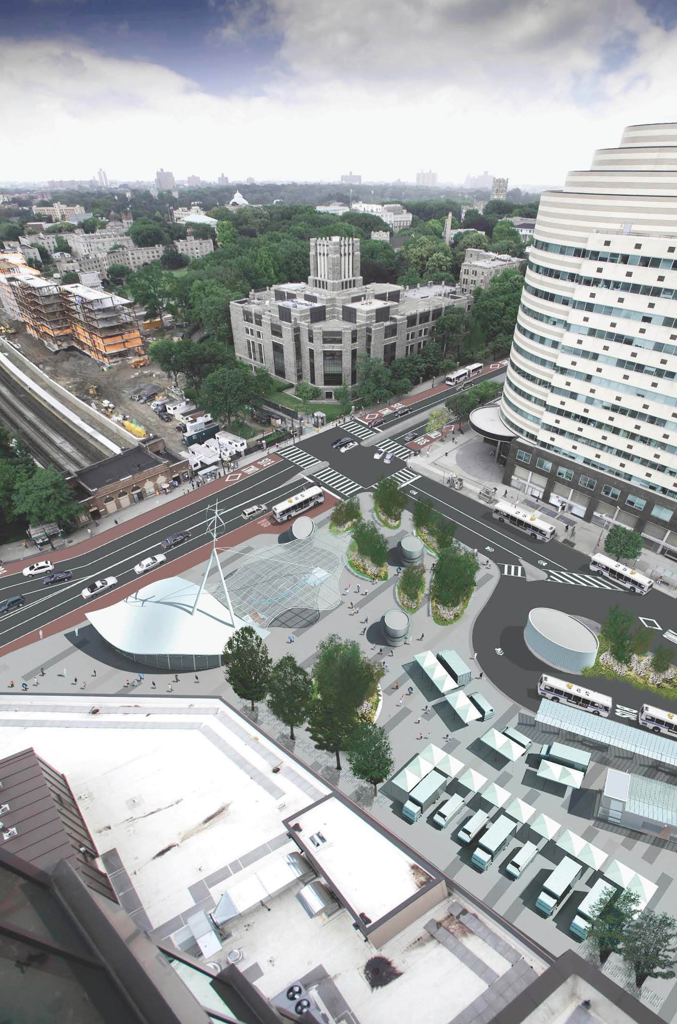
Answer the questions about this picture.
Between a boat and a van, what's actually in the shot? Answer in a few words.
van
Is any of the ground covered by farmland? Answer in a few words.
No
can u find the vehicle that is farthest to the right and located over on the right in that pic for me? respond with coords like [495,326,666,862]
[639,698,677,736]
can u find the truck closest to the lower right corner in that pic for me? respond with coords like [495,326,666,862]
[563,872,619,942]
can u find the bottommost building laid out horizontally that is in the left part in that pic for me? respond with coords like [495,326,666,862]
[85,577,270,671]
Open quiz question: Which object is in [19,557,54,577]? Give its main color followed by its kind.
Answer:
white car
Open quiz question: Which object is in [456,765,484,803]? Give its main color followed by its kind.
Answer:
white tent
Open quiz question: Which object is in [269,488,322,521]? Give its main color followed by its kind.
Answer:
white bus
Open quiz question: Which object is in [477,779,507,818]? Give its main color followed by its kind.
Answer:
white tent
